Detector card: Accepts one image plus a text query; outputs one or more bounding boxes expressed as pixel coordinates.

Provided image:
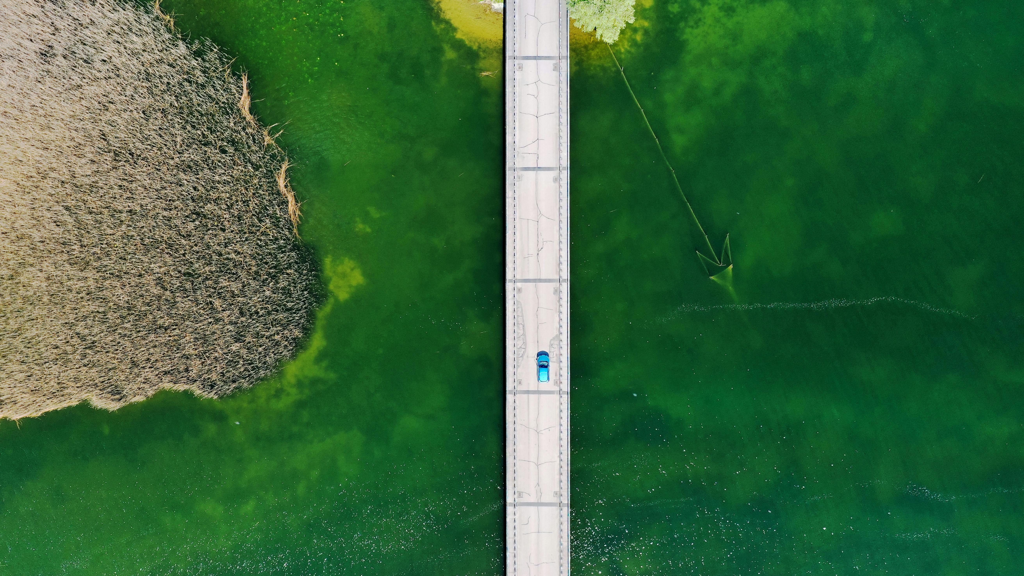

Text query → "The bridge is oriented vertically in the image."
[507,0,570,576]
